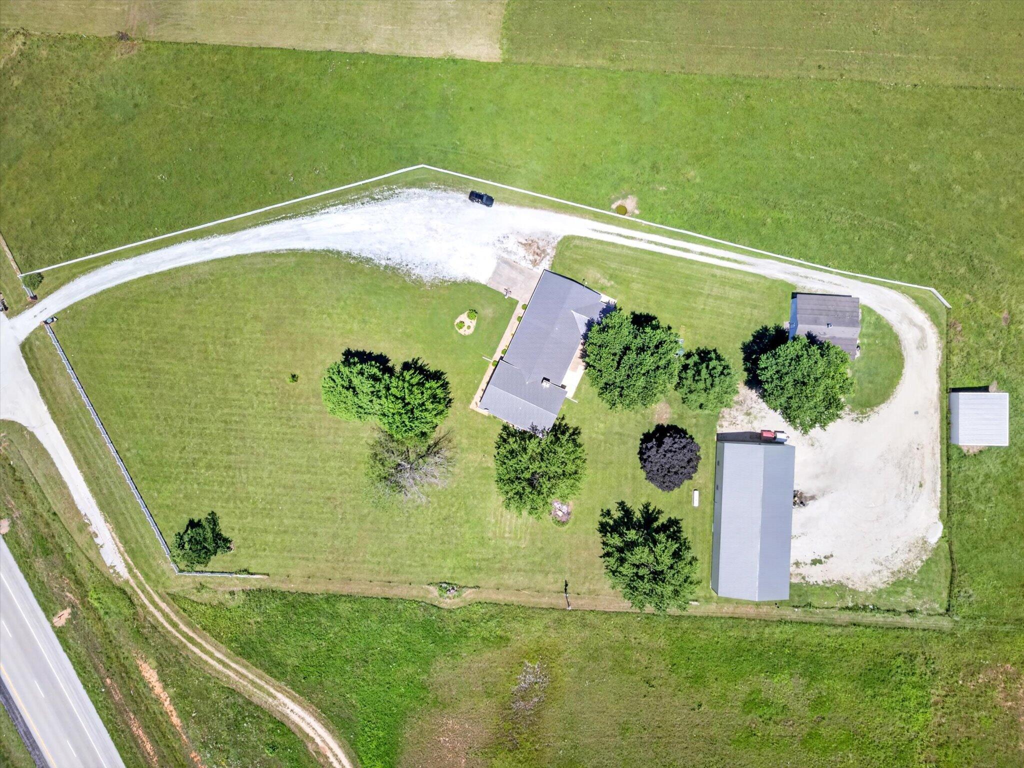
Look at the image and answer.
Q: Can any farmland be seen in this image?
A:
Yes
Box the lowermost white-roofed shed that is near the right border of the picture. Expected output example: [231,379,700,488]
[951,392,1009,446]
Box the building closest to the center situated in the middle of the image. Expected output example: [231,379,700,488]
[478,270,617,439]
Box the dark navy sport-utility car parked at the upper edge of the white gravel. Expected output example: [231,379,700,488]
[468,190,495,207]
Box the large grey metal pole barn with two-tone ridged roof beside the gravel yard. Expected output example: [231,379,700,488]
[711,441,797,601]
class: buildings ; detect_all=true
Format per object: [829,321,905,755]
[788,295,859,362]
[478,270,617,439]
[711,441,797,601]
[951,392,1009,446]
